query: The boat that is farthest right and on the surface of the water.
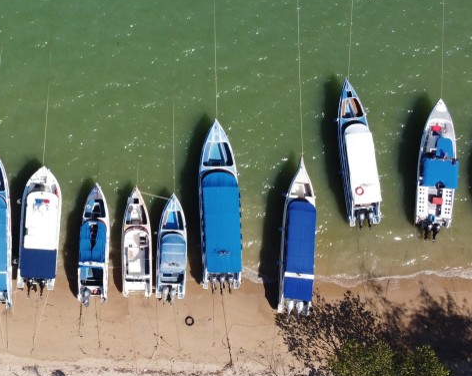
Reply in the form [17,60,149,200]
[411,99,458,233]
